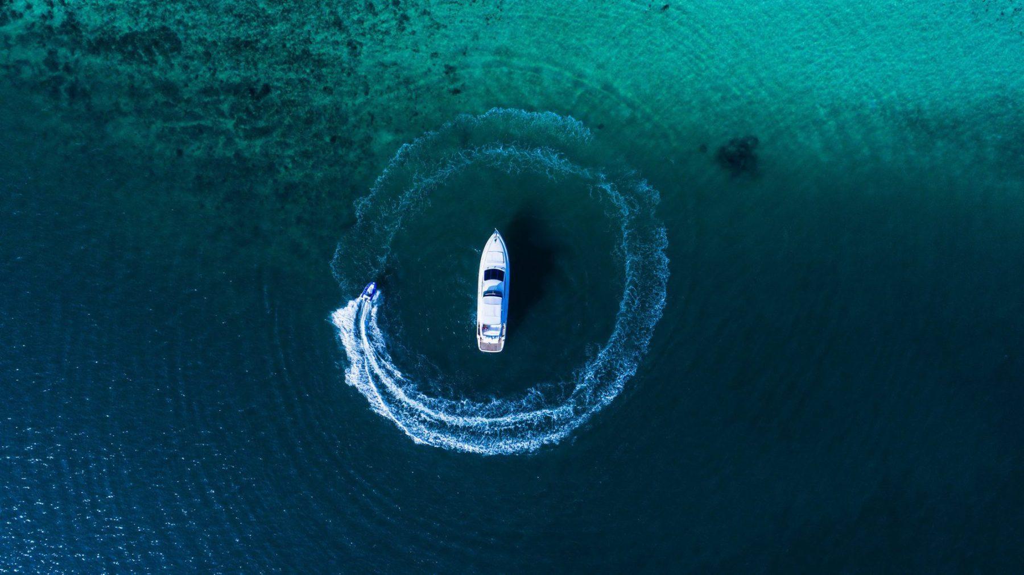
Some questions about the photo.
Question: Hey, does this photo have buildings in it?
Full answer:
No, this view has no building in it.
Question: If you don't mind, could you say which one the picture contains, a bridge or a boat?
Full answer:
There is a boat in the scene.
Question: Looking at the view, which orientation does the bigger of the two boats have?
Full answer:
From this overhead view, the bigger of the two boats appears to run from top to bottom.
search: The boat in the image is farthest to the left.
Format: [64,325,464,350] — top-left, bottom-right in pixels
[361,282,375,303]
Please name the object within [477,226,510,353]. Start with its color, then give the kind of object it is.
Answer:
white boat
